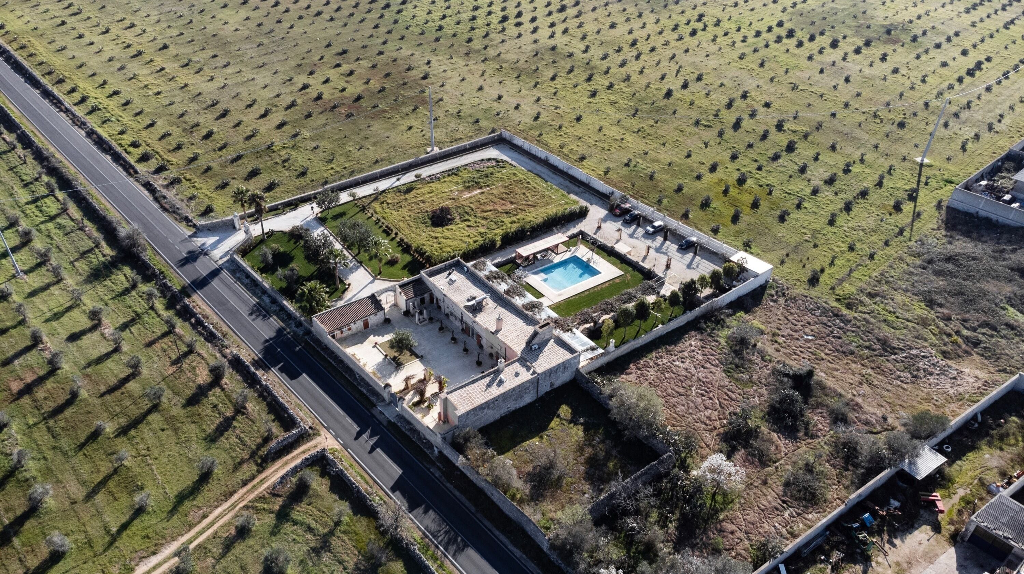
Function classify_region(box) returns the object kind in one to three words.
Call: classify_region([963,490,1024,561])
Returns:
barn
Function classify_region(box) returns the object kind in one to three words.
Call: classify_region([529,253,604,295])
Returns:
swimming pool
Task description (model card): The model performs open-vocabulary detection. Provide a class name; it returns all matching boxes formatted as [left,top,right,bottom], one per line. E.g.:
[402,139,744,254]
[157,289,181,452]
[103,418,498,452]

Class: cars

[678,237,698,250]
[625,211,644,223]
[613,204,631,215]
[647,221,666,234]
